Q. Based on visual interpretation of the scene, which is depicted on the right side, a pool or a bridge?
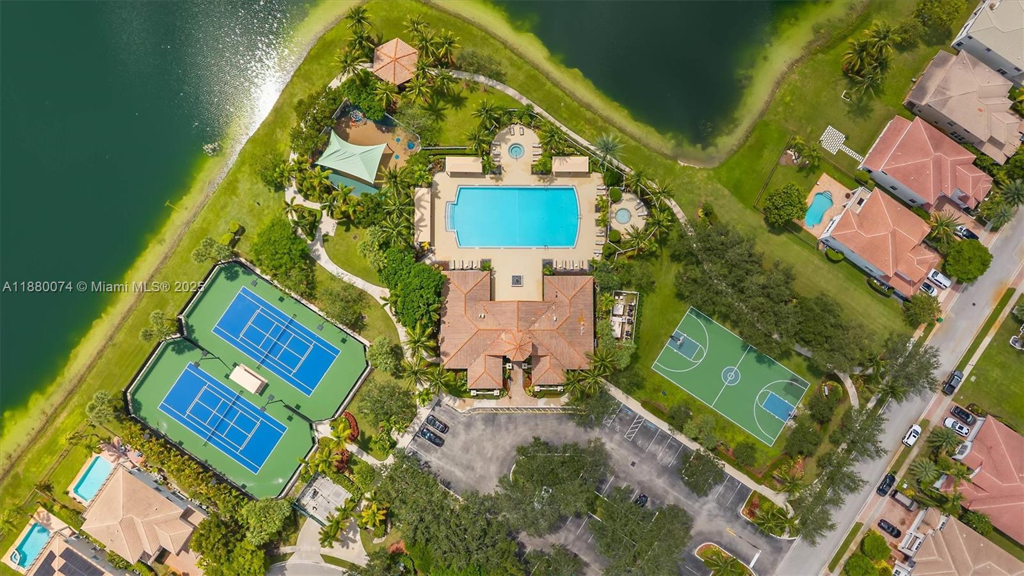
pool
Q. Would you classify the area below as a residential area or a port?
residential area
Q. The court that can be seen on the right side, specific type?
basketball court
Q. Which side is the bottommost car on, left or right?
right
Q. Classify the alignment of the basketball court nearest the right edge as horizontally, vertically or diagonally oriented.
diagonally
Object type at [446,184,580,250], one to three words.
swimming pool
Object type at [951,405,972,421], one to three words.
car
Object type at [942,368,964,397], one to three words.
vehicle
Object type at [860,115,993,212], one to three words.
house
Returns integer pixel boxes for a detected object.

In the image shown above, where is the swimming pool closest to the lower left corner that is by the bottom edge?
[8,522,51,570]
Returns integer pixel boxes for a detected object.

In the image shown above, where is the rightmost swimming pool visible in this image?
[805,190,834,229]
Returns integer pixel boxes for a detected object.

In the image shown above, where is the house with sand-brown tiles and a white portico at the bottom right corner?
[890,504,1024,576]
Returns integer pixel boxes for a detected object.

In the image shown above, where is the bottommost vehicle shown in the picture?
[877,518,901,539]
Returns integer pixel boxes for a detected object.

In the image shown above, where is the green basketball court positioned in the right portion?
[651,306,810,447]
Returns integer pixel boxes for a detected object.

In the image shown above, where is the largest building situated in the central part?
[442,271,594,389]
